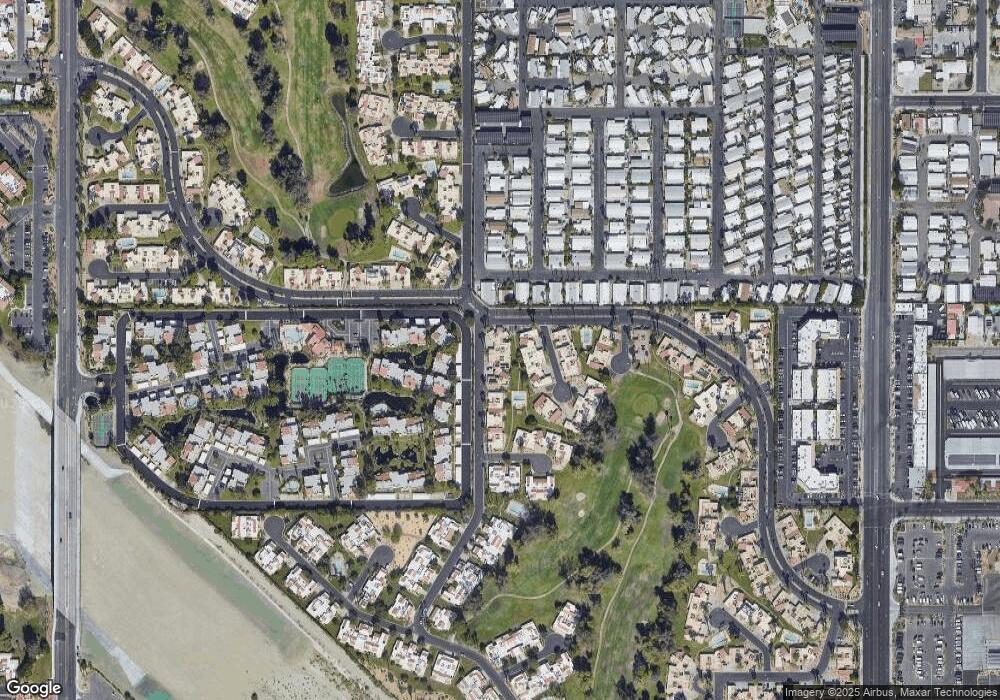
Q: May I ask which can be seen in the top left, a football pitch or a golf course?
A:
golf course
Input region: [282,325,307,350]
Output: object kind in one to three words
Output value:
swimming pool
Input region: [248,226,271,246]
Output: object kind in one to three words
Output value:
swimming pool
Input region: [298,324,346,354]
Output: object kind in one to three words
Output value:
building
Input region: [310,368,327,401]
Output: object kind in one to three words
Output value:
tennis court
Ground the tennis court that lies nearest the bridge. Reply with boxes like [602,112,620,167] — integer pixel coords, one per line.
[94,410,109,444]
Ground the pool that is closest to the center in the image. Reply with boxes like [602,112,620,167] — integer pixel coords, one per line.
[512,390,526,406]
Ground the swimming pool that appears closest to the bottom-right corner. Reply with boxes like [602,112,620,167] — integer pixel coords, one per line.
[781,633,801,645]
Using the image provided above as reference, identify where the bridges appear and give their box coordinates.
[54,404,80,636]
